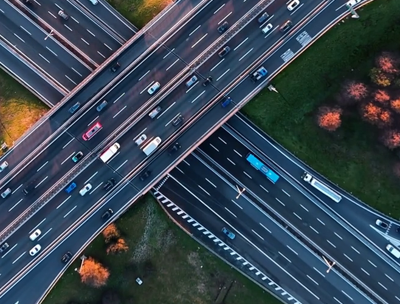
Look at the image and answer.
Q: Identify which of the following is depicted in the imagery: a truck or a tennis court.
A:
truck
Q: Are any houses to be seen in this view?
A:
No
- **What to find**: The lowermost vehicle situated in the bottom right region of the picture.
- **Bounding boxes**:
[385,244,400,260]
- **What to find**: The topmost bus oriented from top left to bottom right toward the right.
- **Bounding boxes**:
[245,153,279,183]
